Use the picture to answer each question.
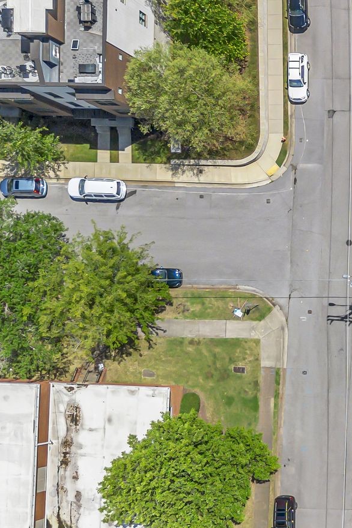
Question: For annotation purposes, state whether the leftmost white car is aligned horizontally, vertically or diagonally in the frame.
horizontally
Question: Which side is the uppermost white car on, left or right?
right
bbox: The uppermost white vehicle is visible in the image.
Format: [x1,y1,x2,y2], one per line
[285,52,311,103]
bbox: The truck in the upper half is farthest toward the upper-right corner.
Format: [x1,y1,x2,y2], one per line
[286,0,311,36]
